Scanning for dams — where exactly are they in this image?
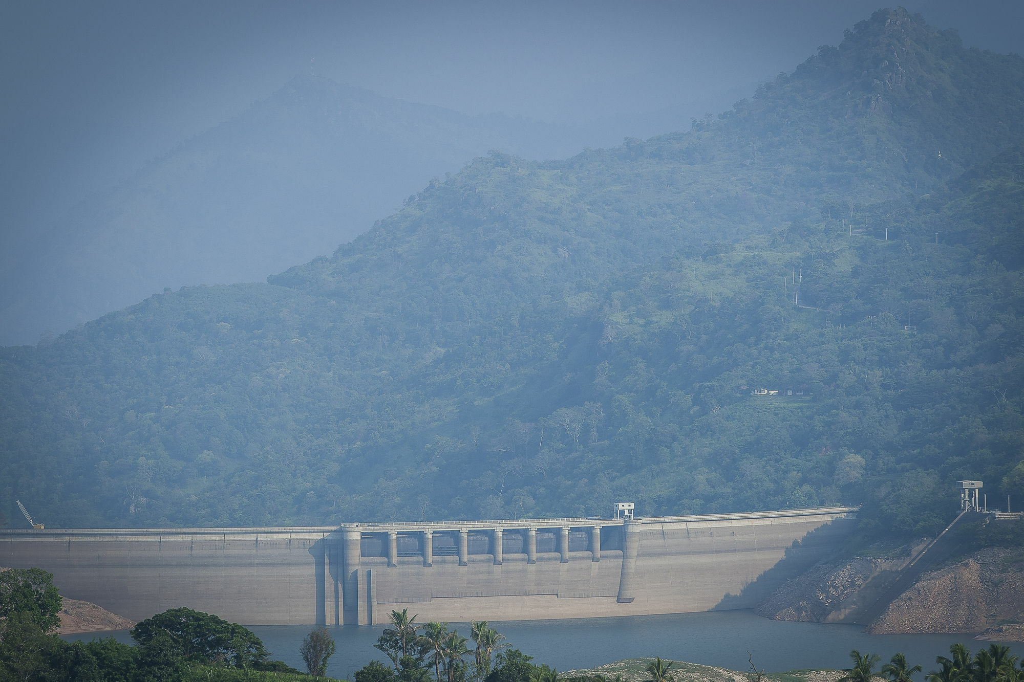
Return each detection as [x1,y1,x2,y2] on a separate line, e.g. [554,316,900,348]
[0,502,872,627]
